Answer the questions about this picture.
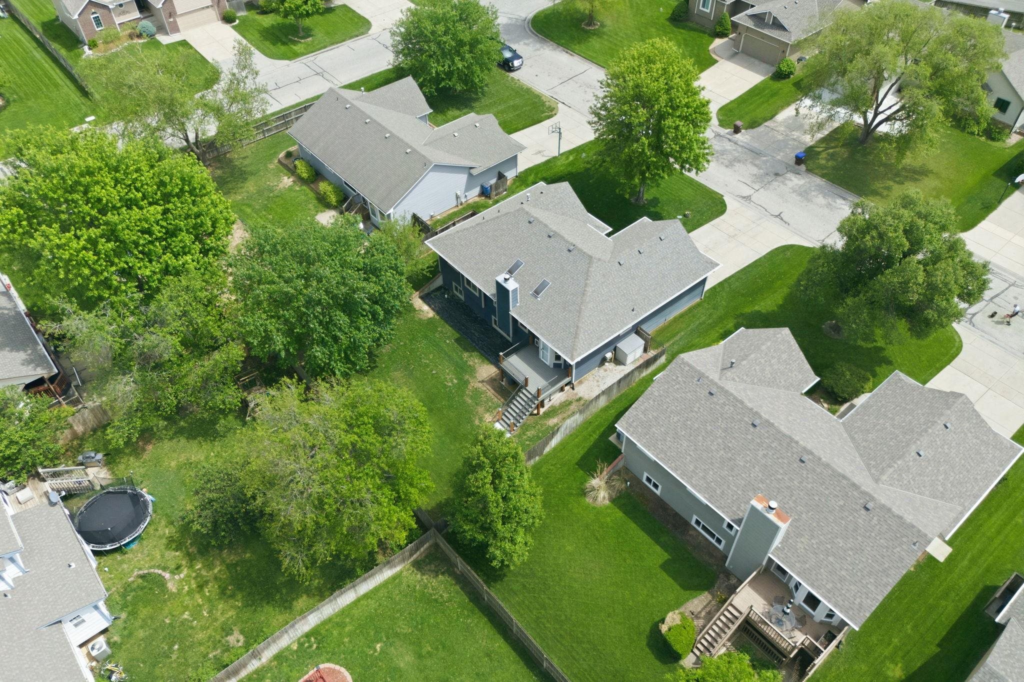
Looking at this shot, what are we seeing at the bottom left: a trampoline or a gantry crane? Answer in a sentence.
Visible at the bottom left is a trampoline.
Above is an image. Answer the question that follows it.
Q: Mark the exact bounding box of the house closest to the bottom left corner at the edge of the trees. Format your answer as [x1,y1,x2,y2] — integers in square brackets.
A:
[0,479,128,682]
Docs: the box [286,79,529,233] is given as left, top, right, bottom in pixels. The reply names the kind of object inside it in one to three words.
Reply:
house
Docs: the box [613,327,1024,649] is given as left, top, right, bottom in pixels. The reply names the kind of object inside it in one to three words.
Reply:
house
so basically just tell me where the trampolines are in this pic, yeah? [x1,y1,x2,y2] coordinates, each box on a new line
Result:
[78,475,158,556]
